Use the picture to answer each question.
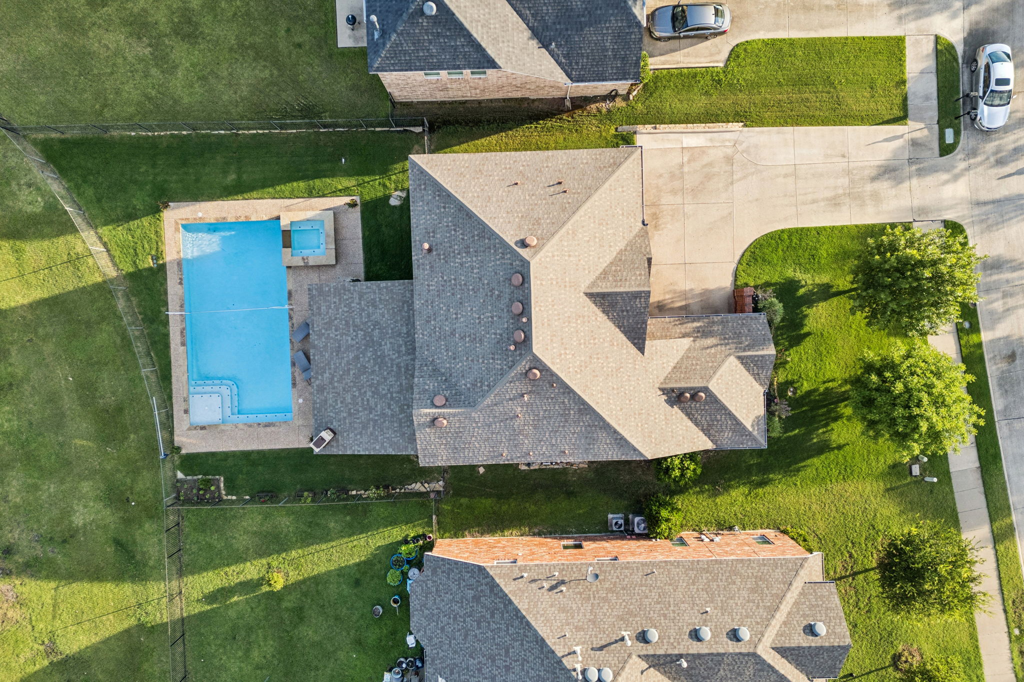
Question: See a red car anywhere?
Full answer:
No, the picture doesn't show any red car.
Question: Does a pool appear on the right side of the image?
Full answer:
No, I see no pool on the right side of the image.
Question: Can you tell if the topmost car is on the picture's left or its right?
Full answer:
You can find the topmost car on the right side of the picture.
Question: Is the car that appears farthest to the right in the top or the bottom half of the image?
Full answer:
The top half of the photo is where the car that appears farthest to the right is.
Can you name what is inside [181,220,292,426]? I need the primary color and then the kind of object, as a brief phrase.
blue swimming pool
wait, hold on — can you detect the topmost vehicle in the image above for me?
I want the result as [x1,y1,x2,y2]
[647,0,734,45]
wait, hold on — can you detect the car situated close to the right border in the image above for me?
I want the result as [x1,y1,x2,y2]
[969,42,1019,132]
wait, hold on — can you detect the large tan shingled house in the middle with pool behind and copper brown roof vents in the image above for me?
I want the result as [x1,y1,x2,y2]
[407,142,776,466]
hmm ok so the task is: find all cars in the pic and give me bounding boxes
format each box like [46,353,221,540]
[647,0,734,45]
[969,42,1019,132]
